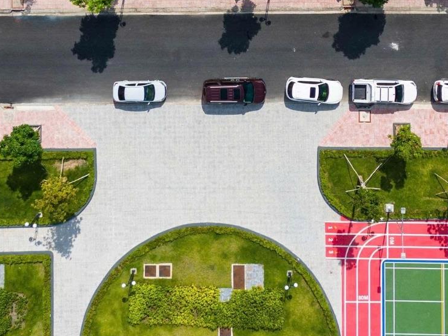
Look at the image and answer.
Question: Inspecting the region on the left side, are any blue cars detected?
No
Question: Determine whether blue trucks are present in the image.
No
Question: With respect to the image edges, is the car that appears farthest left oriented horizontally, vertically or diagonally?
horizontally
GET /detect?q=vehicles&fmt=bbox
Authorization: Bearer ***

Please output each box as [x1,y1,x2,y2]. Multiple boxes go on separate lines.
[349,79,416,108]
[202,76,265,108]
[113,79,167,106]
[284,76,341,107]
[432,79,448,104]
